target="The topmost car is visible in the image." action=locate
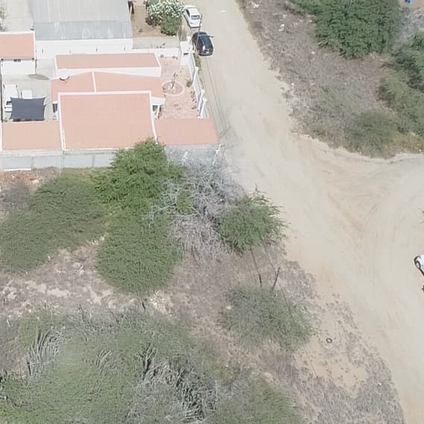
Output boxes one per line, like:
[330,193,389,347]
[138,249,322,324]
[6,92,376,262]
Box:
[183,6,202,30]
